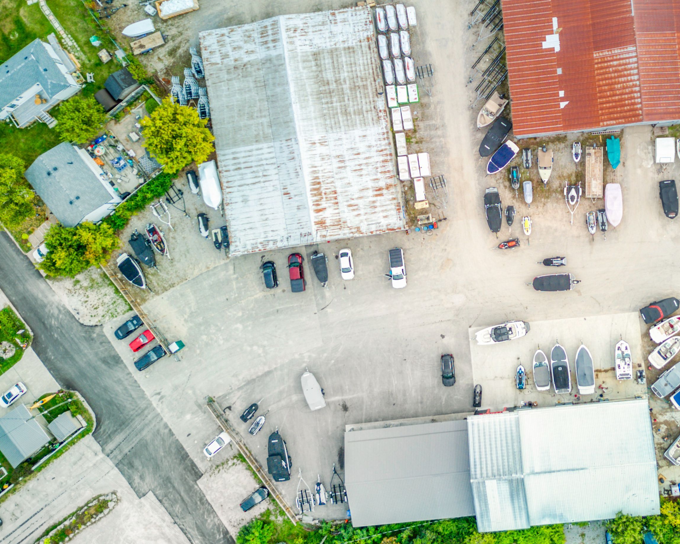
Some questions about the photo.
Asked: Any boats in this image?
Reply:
Yes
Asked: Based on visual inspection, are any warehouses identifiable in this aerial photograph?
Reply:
Yes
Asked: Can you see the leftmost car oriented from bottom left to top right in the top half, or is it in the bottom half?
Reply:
bottom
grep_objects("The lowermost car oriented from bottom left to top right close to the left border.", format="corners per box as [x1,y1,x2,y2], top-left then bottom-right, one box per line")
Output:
[0,379,32,409]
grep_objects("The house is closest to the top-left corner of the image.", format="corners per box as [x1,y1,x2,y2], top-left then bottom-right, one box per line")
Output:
[0,32,91,125]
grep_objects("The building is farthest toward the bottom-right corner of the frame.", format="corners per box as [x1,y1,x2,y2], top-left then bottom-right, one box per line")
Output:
[468,393,658,531]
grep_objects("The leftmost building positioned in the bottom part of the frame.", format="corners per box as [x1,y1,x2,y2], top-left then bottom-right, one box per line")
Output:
[0,400,54,468]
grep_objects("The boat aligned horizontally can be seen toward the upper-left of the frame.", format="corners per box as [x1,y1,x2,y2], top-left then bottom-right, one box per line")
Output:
[121,19,156,35]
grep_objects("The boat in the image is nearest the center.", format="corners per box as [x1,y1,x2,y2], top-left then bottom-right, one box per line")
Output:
[312,250,329,286]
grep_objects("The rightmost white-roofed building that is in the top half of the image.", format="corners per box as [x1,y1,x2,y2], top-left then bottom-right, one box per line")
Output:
[198,7,406,255]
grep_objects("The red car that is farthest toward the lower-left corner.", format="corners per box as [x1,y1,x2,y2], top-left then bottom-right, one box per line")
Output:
[126,327,159,352]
